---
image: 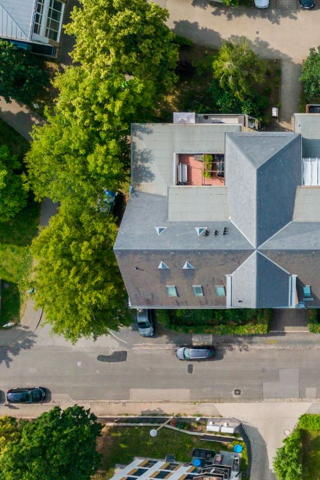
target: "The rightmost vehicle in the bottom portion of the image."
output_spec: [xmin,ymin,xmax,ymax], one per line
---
[177,343,215,363]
